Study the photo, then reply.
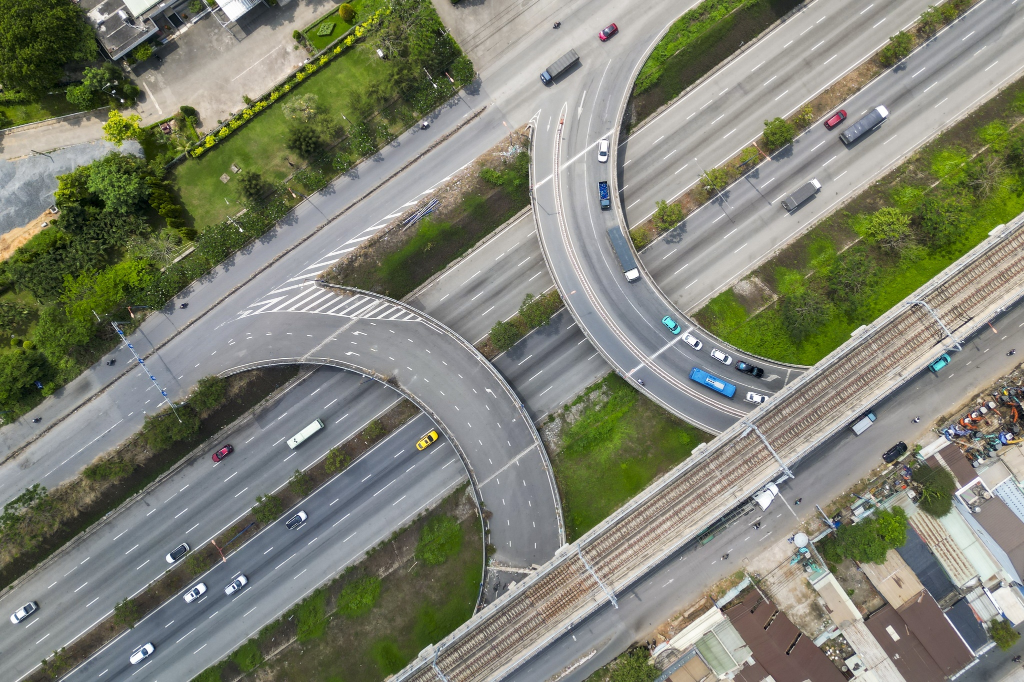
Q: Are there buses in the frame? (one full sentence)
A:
Yes, the picture does show a bus.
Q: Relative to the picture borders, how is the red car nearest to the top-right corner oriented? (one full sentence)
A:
I'd say the red car nearest to the top-right corner is aligned diagonally in the picture.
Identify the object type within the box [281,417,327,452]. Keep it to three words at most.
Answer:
bus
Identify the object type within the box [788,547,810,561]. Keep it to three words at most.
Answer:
work vehicle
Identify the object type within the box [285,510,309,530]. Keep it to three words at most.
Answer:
car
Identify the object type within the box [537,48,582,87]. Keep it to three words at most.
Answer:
truck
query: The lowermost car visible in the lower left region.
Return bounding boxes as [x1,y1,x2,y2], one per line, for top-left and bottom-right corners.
[130,642,156,664]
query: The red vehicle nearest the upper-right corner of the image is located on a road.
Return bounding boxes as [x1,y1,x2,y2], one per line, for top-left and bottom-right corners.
[822,109,847,129]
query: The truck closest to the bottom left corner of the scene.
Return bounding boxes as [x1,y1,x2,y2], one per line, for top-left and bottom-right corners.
[11,601,39,622]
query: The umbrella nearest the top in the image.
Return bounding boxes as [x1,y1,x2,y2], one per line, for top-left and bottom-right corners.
[792,531,809,547]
